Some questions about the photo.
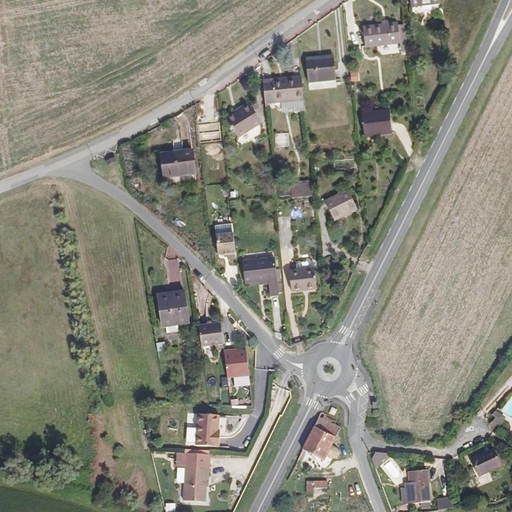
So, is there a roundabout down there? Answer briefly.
Yes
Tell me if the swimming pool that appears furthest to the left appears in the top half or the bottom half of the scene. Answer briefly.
bottom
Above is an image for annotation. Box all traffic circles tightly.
[300,342,358,398]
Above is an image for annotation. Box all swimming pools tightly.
[380,456,406,487]
[502,394,512,413]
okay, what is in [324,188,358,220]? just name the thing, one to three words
house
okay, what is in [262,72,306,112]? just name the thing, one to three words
house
